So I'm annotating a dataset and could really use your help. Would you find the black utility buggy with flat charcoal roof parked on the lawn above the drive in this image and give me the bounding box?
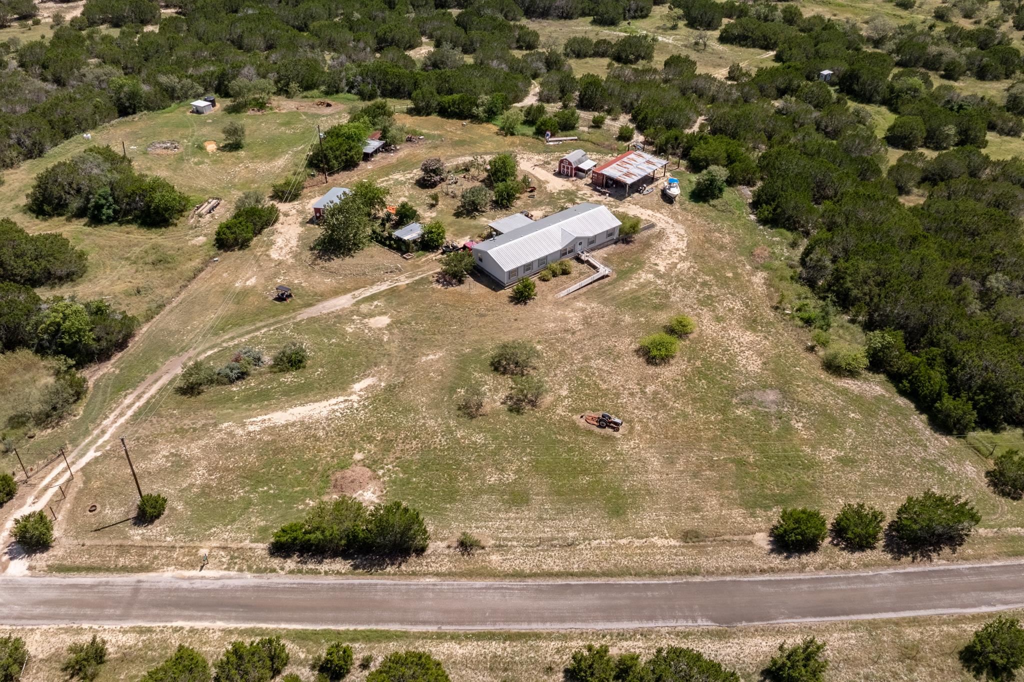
[275,285,294,302]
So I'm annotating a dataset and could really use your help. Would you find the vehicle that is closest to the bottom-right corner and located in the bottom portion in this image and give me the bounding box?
[598,410,624,431]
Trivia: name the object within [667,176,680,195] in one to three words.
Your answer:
boat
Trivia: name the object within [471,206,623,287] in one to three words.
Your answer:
house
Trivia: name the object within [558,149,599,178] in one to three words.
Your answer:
barn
